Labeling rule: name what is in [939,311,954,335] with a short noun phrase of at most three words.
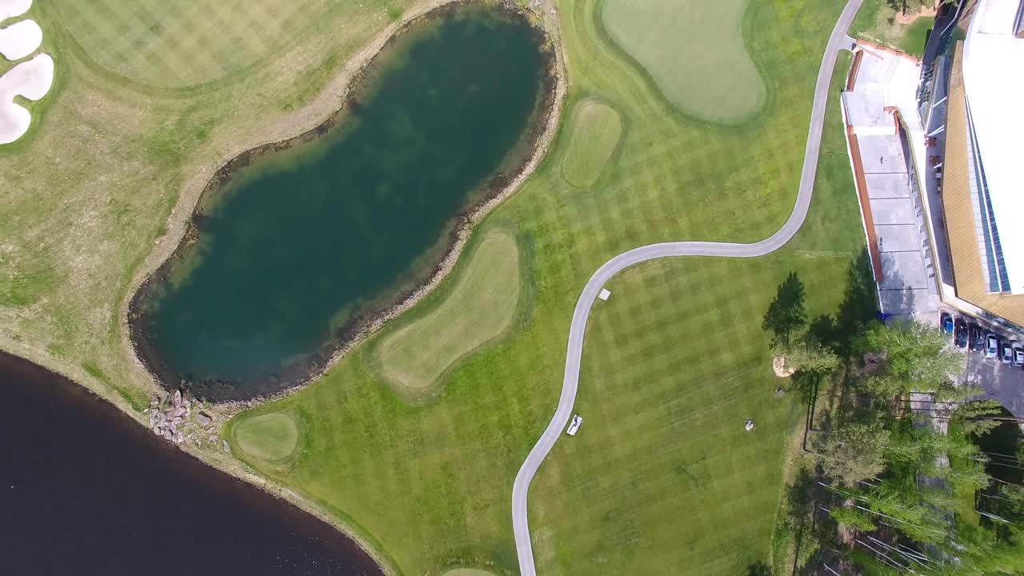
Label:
car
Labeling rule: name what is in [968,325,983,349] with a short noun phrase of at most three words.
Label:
car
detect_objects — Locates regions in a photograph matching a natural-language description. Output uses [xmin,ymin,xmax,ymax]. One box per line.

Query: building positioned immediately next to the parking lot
[839,0,1024,349]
